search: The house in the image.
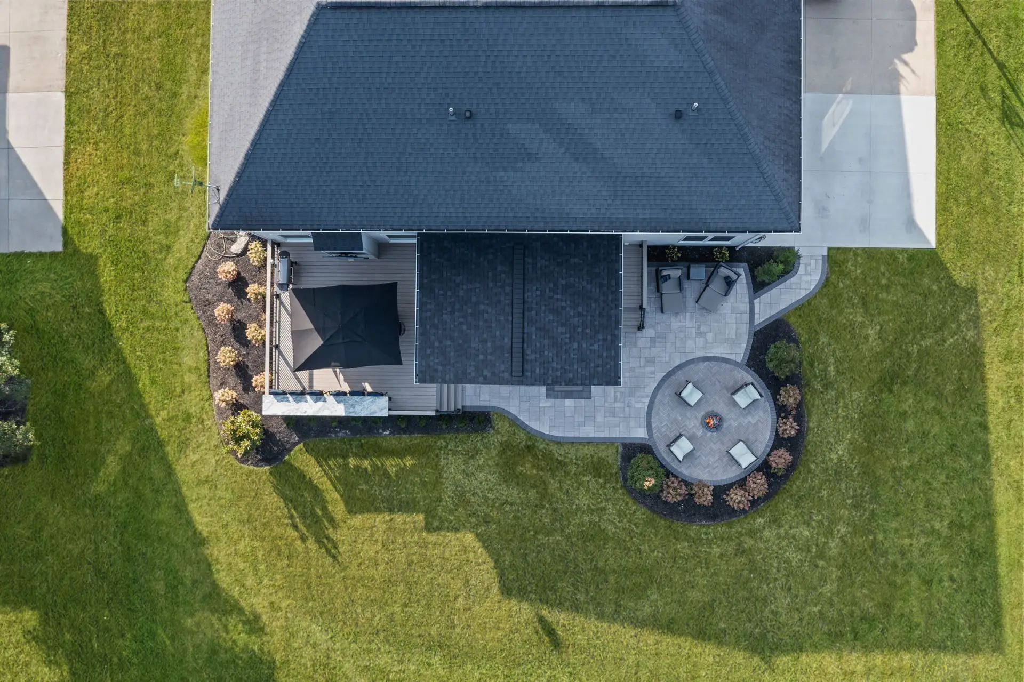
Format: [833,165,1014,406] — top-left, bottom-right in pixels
[203,0,806,386]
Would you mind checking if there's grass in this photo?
Yes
